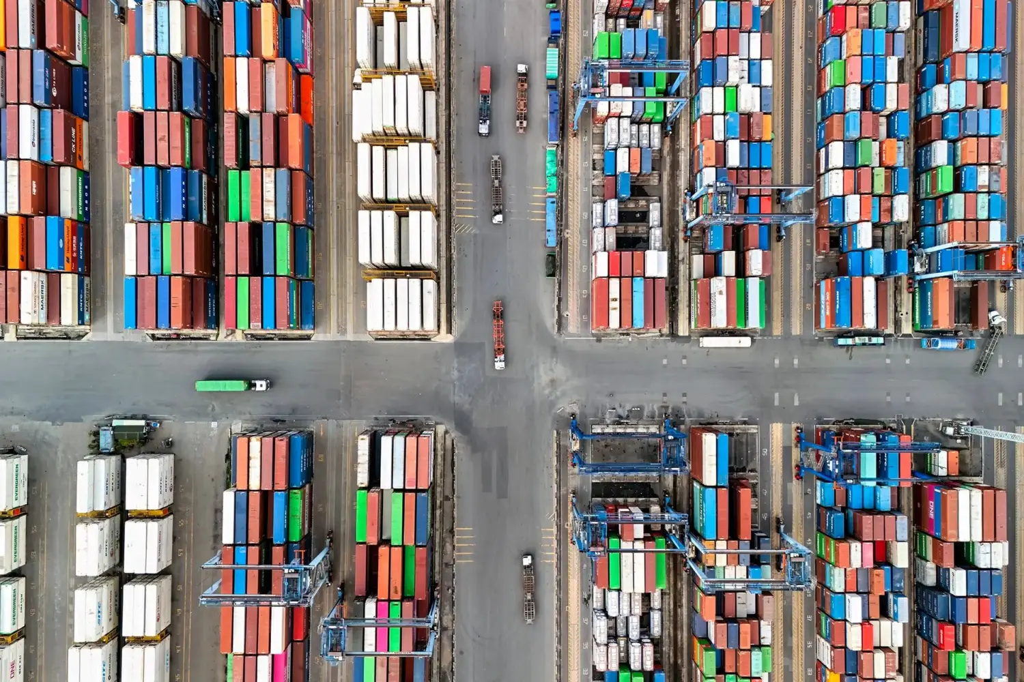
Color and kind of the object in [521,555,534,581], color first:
white vehicle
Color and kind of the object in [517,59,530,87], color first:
white vehicle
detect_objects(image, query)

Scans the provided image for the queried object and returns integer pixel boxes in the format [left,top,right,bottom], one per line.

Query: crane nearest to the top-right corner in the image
[903,241,1024,293]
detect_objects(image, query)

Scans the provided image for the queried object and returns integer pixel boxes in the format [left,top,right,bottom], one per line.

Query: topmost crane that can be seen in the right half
[569,60,689,137]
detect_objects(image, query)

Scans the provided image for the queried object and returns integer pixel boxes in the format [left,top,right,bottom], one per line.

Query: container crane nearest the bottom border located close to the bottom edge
[319,577,444,660]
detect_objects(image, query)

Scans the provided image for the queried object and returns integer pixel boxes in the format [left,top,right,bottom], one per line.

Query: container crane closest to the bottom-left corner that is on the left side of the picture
[203,529,334,607]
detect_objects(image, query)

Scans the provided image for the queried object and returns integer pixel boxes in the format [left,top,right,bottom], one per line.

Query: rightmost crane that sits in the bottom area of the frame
[934,418,1024,445]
